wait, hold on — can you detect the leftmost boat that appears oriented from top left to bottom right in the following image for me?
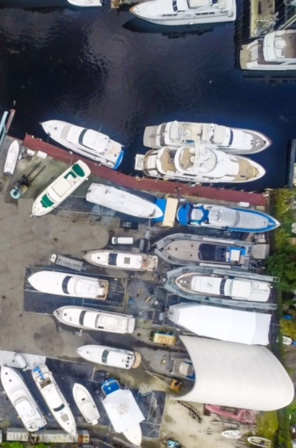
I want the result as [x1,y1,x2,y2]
[2,366,52,436]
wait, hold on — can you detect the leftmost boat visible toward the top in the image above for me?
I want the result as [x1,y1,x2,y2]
[3,140,20,177]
